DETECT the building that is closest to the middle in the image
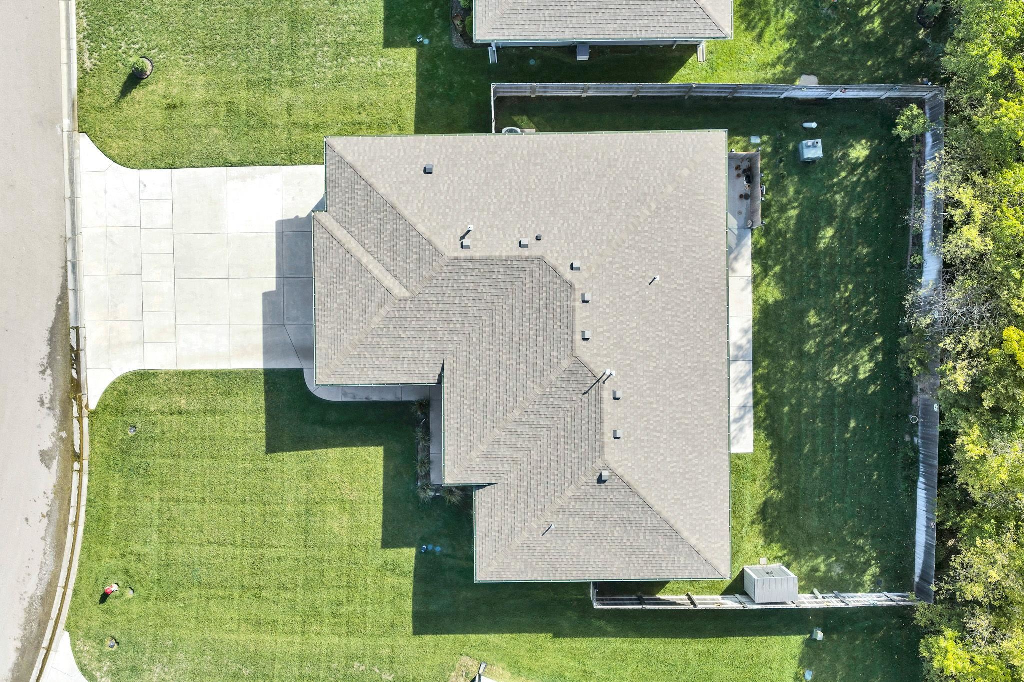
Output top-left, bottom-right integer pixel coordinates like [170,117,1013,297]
[311,130,731,584]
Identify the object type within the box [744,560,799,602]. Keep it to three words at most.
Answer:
shed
